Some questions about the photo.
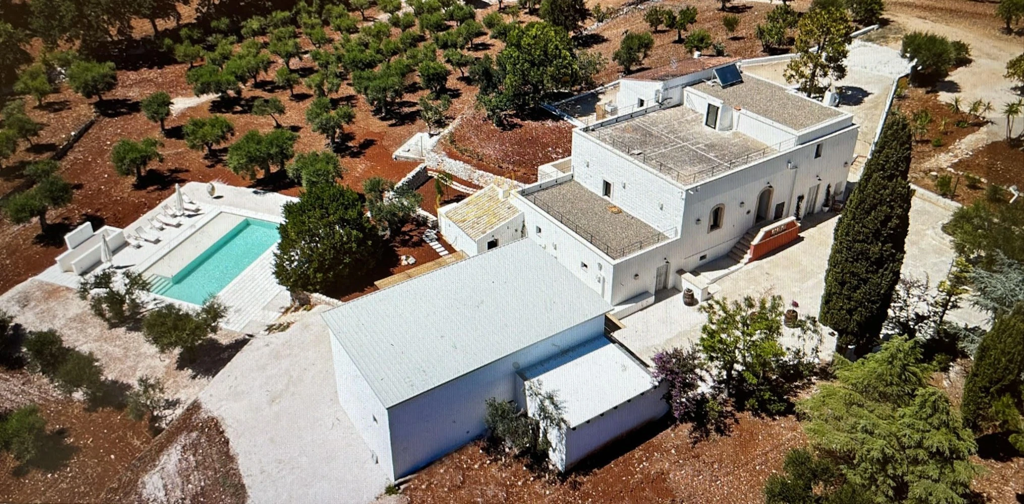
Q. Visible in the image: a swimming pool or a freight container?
swimming pool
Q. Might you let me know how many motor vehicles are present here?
none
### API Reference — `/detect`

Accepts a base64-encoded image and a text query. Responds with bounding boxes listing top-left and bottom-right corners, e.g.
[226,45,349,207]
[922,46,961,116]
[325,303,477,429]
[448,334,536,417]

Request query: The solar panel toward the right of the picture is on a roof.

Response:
[706,62,742,89]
